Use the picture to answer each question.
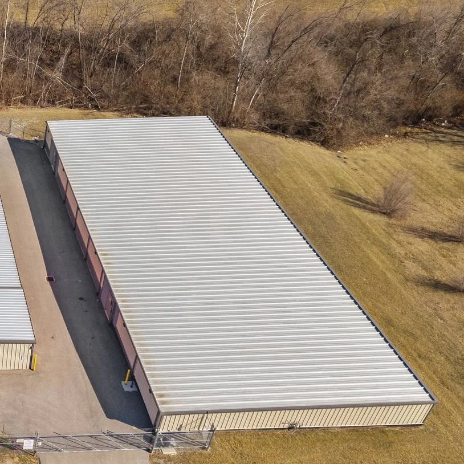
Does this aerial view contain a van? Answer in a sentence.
No, I find no van anywhere in the image.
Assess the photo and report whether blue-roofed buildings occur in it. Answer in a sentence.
No, I can see no blue-roofed building in this picture.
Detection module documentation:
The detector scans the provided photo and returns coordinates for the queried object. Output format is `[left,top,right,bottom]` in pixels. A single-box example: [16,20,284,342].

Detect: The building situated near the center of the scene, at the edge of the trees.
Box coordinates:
[46,118,437,436]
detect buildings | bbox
[46,118,437,436]
[0,194,36,369]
